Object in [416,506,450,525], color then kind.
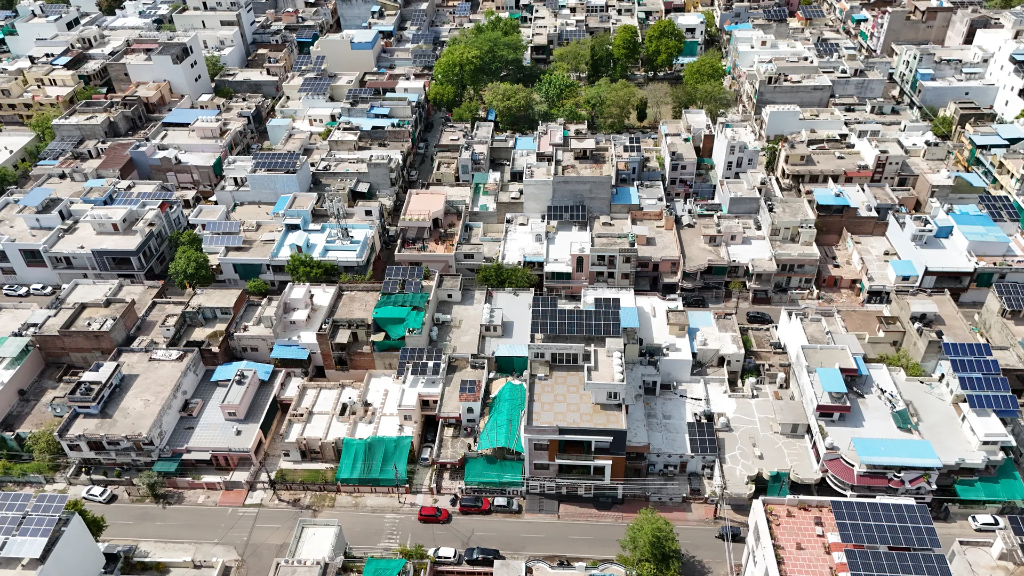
red car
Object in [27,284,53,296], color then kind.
white vehicle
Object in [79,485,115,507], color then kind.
white car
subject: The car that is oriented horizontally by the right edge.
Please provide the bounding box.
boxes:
[966,513,1009,535]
